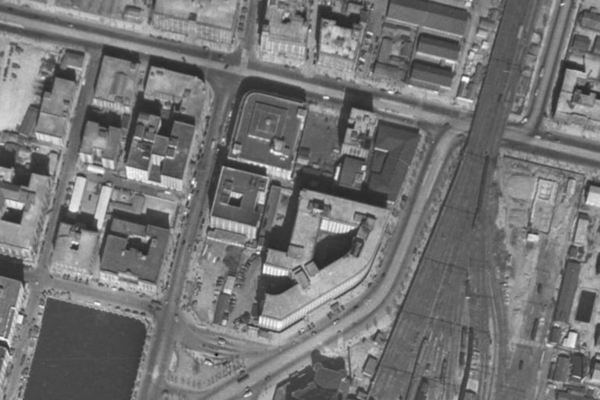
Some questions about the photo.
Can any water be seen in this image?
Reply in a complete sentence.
No, the picture contains no water.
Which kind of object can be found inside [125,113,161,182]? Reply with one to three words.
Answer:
building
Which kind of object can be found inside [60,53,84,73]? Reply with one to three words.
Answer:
house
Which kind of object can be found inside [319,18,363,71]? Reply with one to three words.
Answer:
building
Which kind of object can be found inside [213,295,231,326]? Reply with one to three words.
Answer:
shed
